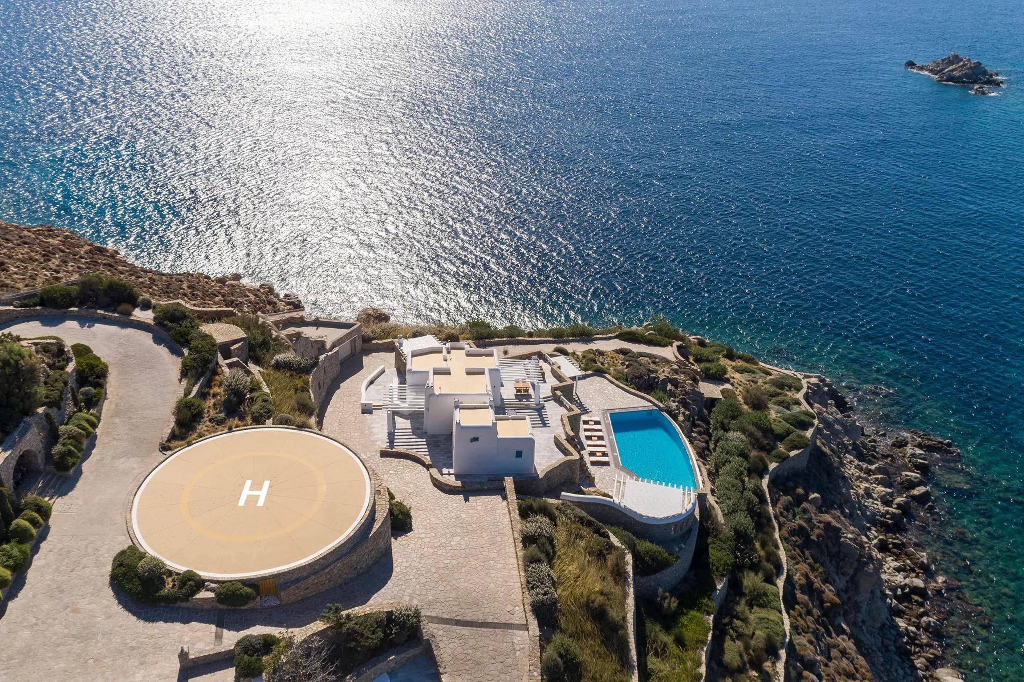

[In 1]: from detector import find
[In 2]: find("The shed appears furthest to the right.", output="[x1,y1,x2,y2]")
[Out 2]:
[698,382,733,415]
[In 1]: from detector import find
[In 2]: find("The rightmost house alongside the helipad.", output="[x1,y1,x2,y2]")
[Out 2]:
[405,339,537,475]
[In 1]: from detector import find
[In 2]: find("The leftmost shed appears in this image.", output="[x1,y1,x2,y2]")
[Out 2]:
[200,322,247,358]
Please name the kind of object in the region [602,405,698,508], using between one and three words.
swimming pool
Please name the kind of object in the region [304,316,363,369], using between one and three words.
building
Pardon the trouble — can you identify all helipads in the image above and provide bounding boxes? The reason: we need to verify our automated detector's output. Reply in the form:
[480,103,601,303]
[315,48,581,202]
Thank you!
[123,424,377,603]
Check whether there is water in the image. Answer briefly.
Yes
